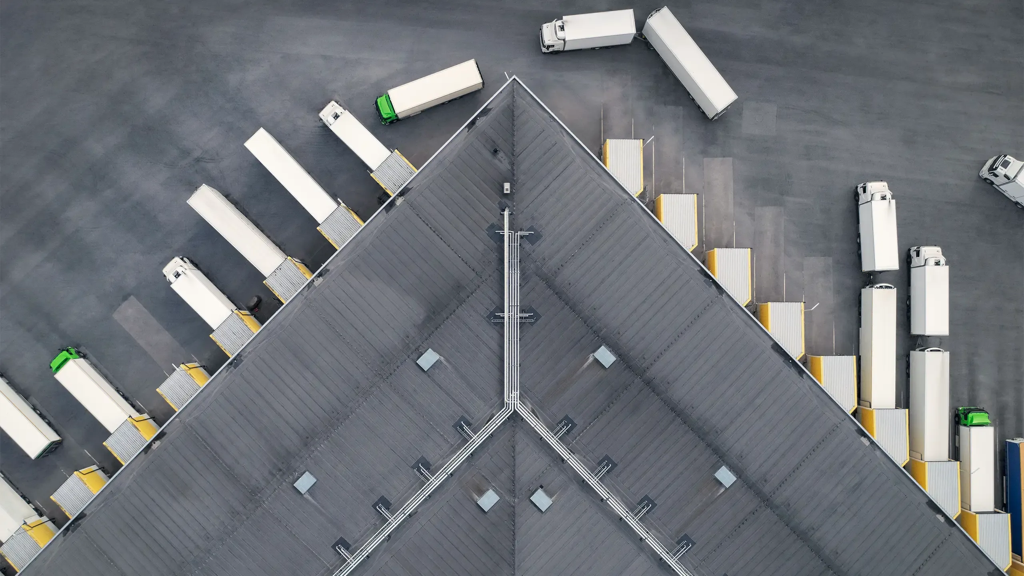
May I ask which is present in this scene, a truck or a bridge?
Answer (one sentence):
Of the two, only a truck appears.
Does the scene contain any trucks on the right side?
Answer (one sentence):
Yes, a truck is visible on the right side.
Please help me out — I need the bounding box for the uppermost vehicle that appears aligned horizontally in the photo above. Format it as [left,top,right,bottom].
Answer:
[540,9,636,55]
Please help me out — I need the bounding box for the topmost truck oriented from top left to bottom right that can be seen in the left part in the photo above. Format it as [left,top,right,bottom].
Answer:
[319,100,392,169]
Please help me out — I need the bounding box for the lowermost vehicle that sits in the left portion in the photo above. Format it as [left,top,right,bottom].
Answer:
[0,475,39,541]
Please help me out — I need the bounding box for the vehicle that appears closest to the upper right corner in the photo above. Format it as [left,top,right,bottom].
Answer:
[976,151,1024,201]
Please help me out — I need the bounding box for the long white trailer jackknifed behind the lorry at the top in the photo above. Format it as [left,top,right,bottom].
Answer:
[636,7,737,120]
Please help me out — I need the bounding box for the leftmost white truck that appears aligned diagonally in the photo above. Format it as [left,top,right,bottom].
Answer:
[0,362,70,460]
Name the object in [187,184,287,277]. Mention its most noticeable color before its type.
white trailer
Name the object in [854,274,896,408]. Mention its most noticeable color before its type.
white trailer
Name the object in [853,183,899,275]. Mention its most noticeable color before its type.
white truck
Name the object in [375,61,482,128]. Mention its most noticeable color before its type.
white truck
